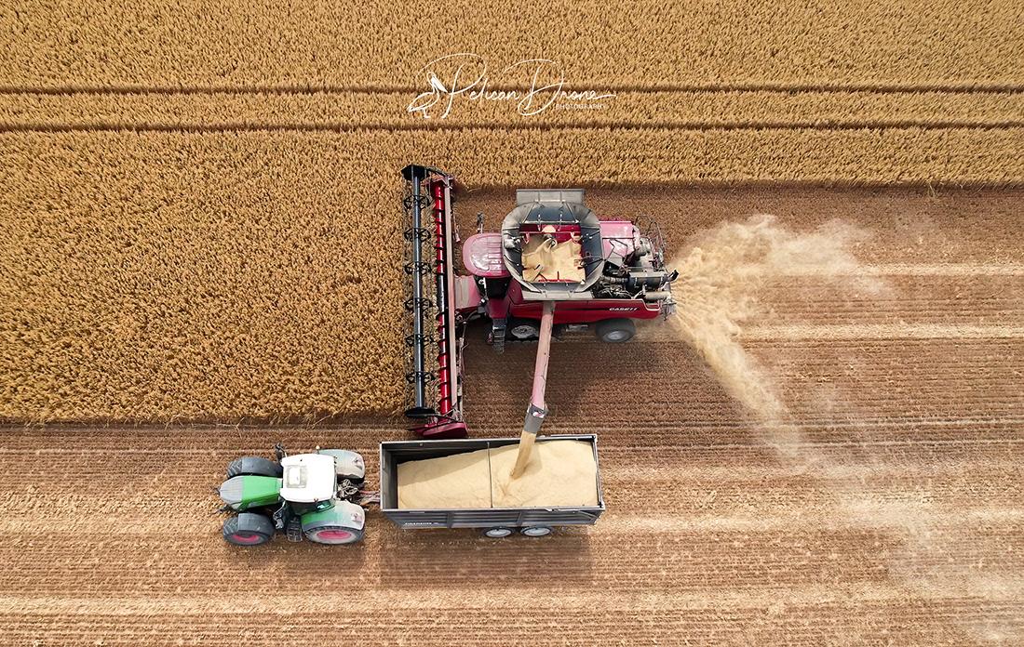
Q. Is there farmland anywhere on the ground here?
Yes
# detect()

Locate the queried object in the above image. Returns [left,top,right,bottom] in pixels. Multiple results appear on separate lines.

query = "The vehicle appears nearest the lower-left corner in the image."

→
[212,447,374,546]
